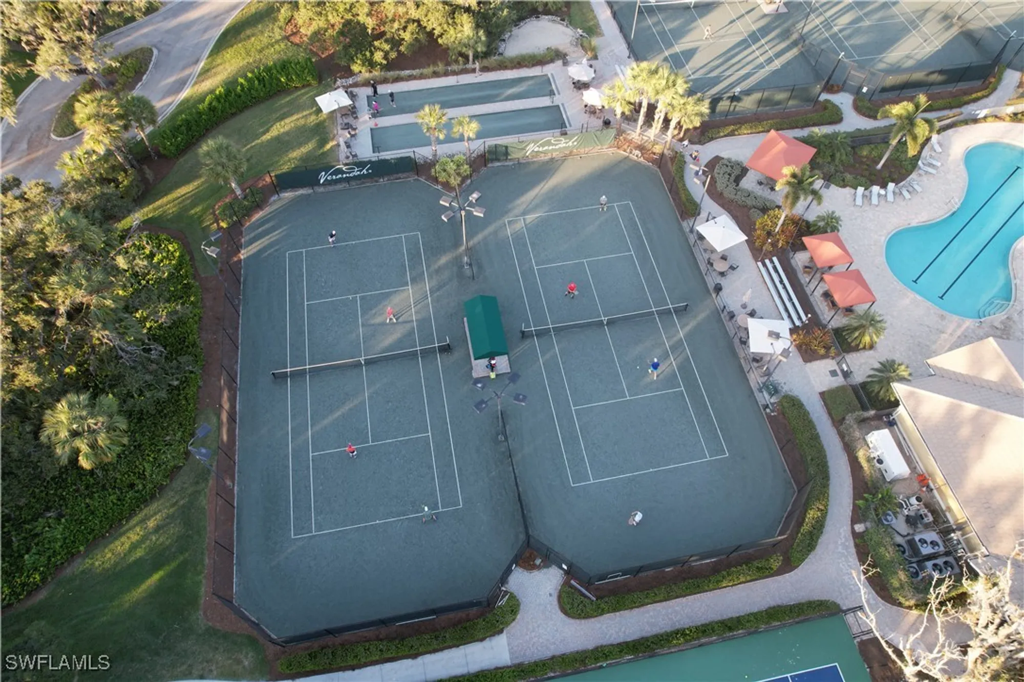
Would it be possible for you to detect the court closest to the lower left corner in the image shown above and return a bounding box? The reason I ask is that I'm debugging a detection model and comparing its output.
[233,179,524,640]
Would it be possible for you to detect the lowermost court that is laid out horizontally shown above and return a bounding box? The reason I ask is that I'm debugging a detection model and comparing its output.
[571,613,869,682]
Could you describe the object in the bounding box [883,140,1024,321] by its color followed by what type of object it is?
blue swimming pool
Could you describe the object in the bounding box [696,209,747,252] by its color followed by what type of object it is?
white umbrella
